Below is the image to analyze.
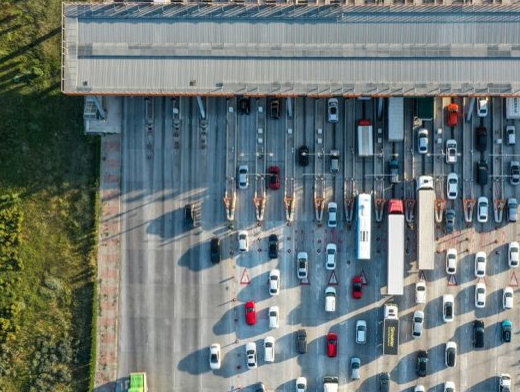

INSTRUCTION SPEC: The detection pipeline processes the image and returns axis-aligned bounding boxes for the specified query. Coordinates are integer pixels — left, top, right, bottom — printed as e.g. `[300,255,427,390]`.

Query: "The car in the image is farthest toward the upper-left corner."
[238,94,250,115]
